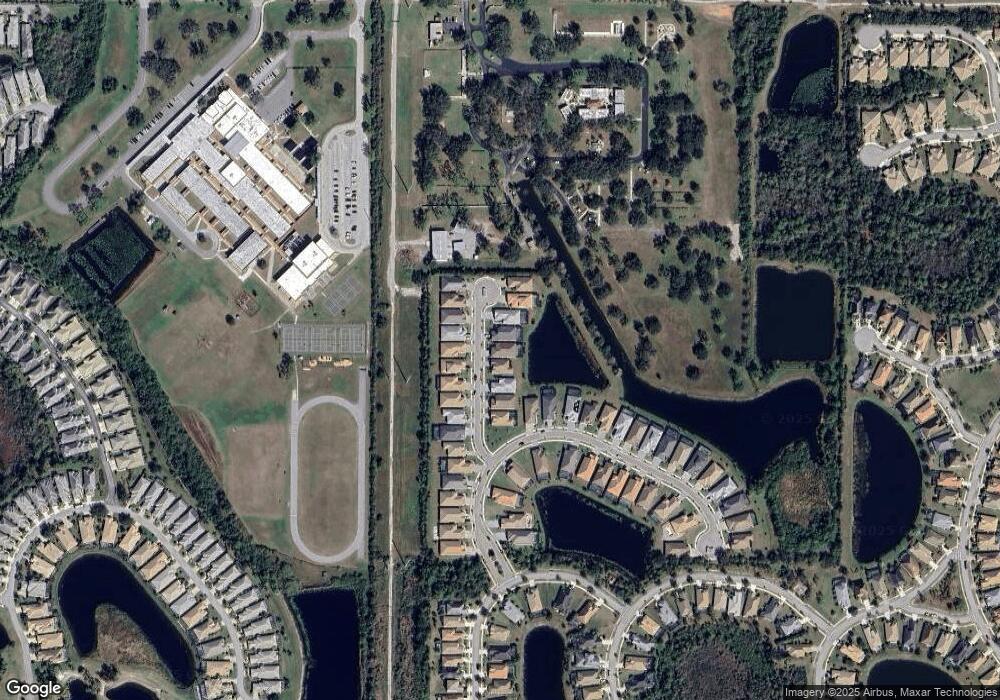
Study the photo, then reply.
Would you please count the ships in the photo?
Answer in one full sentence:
No ships are visible.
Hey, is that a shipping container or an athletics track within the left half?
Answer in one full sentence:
The feature located within the left half is an athletics track.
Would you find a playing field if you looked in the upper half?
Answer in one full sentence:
No, no playing field can be made out in the upper half.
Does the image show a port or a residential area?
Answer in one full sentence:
The area seen from above is a residential area.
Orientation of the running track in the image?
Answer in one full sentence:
In this picture, the running track lies vertically.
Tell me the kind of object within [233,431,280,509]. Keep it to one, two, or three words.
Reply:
sports field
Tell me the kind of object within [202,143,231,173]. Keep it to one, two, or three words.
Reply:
building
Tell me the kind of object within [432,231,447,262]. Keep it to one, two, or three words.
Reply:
shed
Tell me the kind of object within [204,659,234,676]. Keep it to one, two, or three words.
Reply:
house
